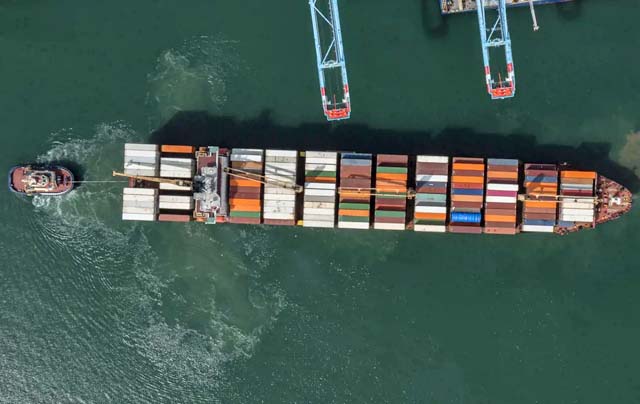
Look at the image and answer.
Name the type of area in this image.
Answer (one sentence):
The area seen from above is a port.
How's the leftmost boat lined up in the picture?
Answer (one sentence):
The leftmost boat runs horizontally in the image.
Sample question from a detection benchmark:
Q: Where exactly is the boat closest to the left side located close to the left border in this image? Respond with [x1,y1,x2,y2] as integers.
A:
[6,164,74,196]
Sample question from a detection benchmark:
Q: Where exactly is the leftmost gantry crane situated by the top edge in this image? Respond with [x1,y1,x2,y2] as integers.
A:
[309,0,351,122]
